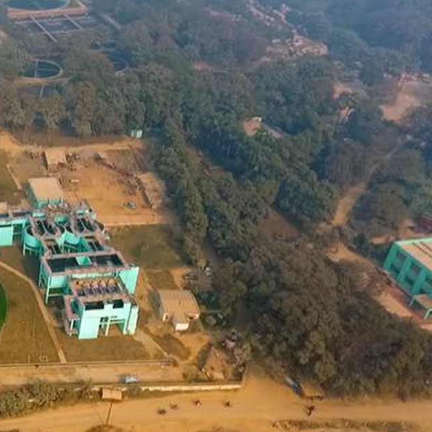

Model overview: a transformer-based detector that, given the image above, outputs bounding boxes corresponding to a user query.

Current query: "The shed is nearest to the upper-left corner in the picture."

[38,146,70,168]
